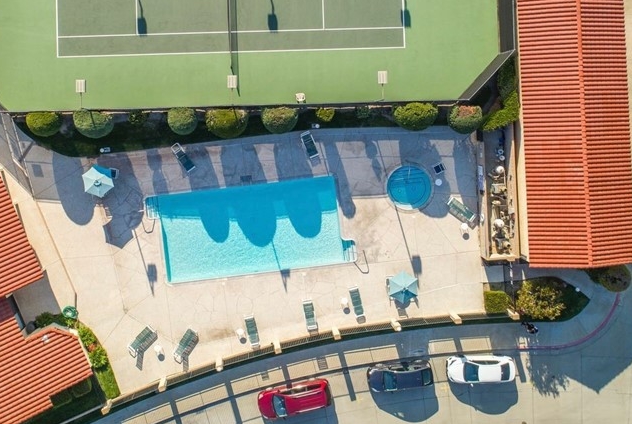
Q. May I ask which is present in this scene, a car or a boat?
car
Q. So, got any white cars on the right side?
Yes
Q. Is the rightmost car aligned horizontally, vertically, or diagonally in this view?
horizontally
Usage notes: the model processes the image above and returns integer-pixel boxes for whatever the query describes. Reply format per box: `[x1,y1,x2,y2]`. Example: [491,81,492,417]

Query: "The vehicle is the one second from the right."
[366,358,434,393]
